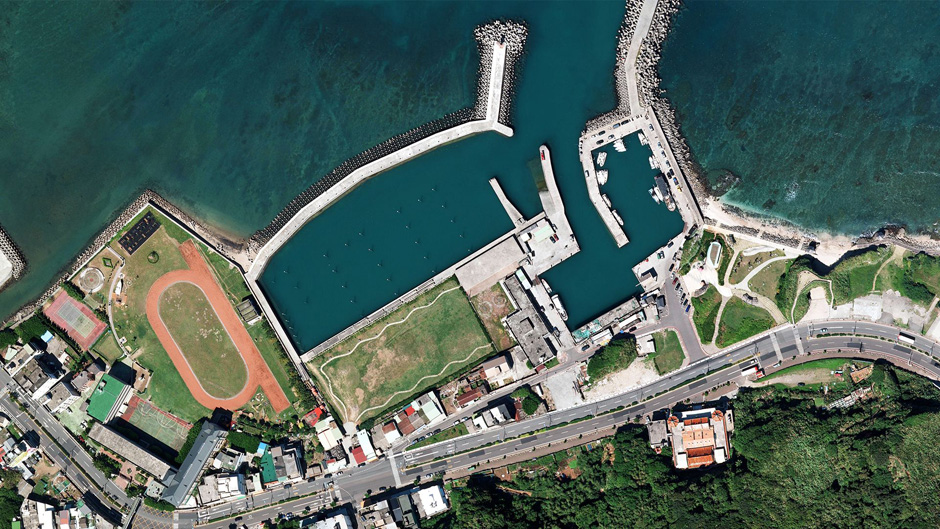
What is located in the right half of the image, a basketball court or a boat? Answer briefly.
boat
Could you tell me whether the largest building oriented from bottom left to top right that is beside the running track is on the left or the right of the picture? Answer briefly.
left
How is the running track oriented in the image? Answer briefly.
on a diagonal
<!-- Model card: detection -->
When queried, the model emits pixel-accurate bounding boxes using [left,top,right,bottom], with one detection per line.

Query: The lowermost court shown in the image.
[121,394,193,450]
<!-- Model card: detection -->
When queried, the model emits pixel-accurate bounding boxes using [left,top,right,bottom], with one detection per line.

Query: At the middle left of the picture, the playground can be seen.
[118,211,162,255]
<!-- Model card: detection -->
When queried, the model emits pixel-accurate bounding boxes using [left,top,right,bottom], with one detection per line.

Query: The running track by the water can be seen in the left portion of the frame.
[147,239,291,413]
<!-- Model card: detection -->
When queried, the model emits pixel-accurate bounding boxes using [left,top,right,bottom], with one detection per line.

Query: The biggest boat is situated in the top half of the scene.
[655,174,673,212]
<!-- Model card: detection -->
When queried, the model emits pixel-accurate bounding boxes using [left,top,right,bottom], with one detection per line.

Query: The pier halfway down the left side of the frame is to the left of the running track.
[0,241,22,289]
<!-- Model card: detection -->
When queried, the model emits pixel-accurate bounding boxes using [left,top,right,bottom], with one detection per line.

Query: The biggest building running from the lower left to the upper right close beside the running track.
[162,420,234,506]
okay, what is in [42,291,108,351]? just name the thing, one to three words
tennis court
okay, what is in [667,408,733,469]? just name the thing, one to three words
house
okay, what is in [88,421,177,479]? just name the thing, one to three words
building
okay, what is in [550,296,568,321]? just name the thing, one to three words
boat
